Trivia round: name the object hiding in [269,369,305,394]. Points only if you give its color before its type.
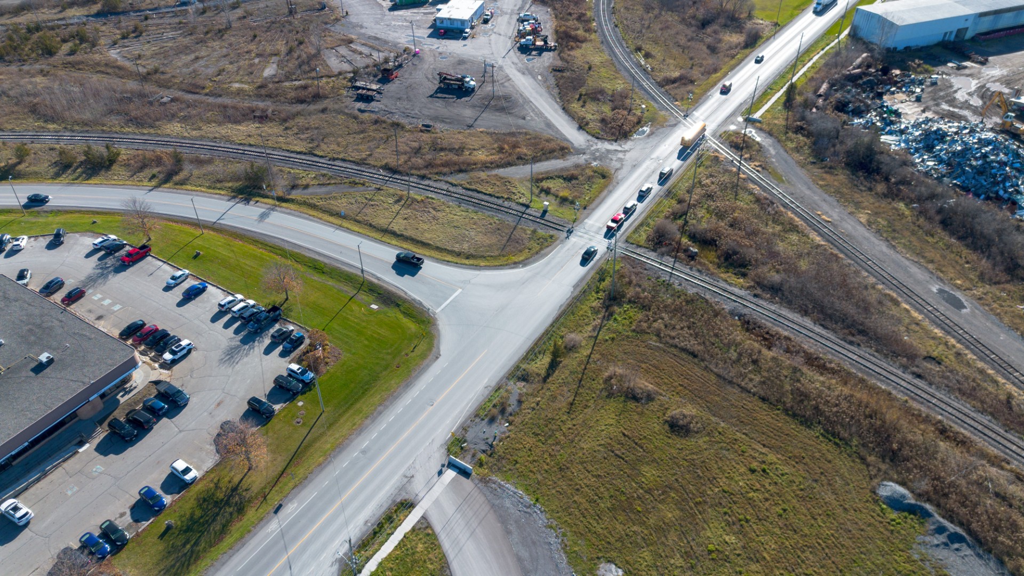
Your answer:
black car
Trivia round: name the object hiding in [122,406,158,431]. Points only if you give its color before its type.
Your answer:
black car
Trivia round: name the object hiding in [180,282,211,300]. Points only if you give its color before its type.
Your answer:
blue car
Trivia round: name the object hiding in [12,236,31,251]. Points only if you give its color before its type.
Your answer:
white car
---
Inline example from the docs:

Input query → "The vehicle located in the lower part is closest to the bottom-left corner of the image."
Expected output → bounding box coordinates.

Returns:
[0,496,35,530]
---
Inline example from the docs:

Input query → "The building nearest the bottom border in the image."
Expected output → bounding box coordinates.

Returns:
[0,274,145,473]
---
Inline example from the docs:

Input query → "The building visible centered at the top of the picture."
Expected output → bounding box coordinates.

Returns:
[431,0,479,28]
